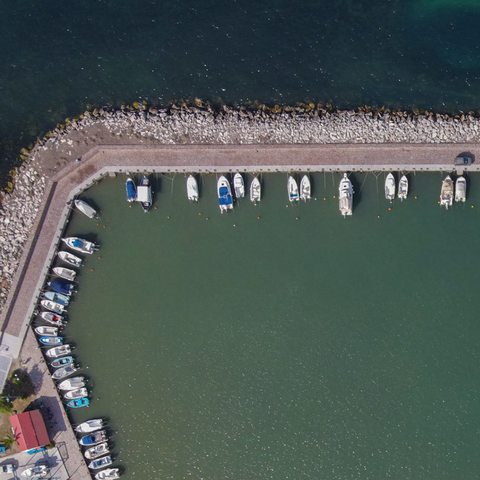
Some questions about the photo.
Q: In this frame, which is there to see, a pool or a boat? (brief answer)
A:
boat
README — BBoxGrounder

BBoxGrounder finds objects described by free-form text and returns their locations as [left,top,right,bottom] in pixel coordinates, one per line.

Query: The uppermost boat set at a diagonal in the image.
[74,200,96,219]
